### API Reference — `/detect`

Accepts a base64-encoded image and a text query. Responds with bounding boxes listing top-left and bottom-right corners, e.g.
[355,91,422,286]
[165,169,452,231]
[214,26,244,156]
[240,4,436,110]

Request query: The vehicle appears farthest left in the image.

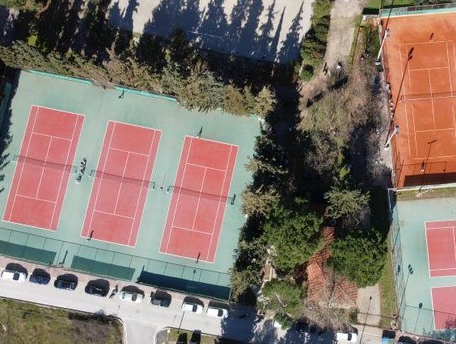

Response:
[1,271,25,284]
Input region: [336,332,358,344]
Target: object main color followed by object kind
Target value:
white vehicle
